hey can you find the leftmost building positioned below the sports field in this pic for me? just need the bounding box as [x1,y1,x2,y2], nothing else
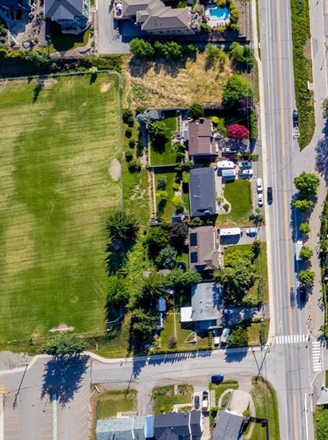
[94,417,146,440]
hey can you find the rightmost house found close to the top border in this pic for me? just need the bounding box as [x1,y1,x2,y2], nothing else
[121,0,196,32]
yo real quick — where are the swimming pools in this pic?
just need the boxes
[205,4,232,27]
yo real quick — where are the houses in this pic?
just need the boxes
[189,168,218,216]
[214,411,245,440]
[188,226,221,271]
[0,0,34,11]
[121,0,196,32]
[181,282,224,328]
[94,417,146,440]
[45,0,92,23]
[152,411,202,440]
[187,119,214,155]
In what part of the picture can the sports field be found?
left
